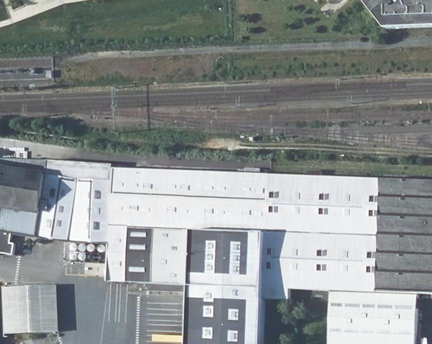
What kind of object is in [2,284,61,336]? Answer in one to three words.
shed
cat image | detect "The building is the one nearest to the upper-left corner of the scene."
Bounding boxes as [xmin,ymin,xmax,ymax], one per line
[0,54,56,86]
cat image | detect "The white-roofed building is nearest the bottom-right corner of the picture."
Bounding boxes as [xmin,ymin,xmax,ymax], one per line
[327,292,421,344]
